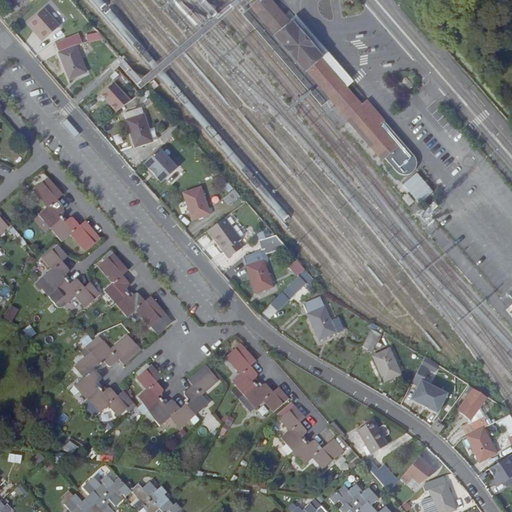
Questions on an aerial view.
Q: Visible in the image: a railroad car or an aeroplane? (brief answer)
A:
railroad car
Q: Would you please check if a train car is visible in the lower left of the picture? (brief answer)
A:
No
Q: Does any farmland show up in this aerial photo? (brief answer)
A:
No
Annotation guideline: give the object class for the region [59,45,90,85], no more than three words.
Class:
house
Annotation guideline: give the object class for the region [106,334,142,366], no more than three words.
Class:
house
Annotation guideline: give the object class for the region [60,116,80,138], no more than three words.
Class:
bus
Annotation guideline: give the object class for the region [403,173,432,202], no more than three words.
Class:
shed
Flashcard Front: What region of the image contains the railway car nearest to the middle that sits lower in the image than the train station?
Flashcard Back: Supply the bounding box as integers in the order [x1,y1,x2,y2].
[248,176,288,220]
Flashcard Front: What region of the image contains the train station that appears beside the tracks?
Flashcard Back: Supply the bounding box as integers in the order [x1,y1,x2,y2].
[246,0,400,156]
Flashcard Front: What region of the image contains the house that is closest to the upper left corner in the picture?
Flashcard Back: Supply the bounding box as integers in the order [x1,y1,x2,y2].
[26,4,62,41]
